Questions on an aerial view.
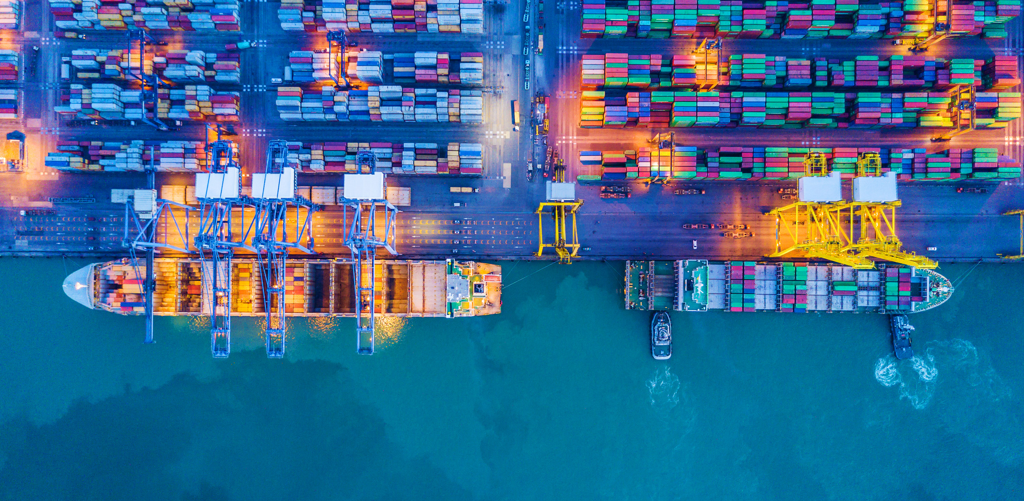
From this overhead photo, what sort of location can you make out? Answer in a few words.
port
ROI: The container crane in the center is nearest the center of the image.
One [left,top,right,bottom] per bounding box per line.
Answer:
[528,160,583,268]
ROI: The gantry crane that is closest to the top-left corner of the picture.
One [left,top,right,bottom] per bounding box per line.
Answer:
[127,27,164,85]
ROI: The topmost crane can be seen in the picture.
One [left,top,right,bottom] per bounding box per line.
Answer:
[910,0,951,52]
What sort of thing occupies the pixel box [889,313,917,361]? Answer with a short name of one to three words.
boat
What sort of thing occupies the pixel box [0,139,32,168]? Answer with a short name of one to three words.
building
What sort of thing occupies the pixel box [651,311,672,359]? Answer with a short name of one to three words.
boat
